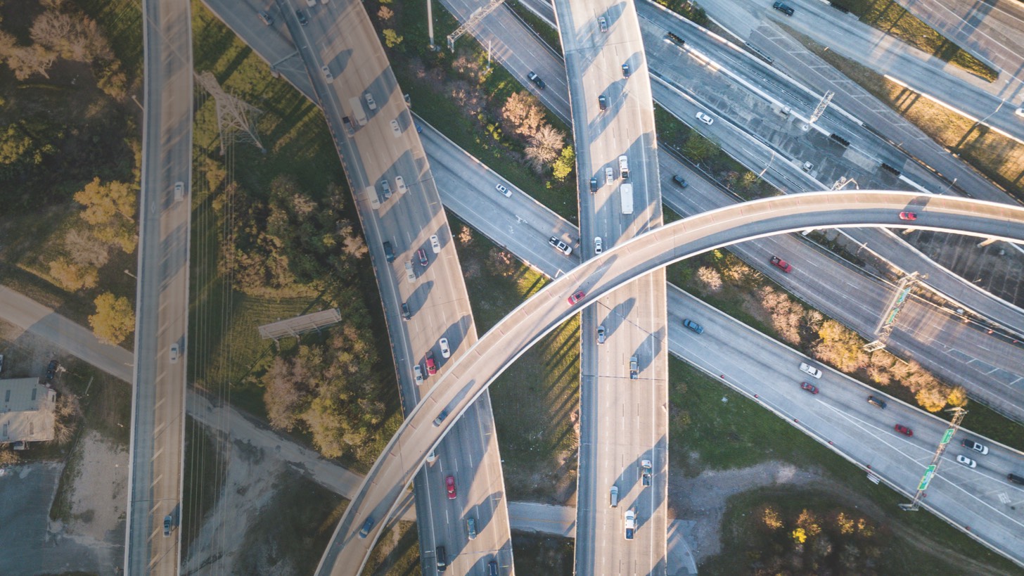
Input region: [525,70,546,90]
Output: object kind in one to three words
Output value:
vehicle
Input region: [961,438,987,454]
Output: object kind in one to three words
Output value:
vehicle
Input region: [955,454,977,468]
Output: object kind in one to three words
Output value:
car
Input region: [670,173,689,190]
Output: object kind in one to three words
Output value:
car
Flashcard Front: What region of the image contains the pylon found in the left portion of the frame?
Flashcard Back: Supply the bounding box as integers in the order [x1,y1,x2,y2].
[195,76,267,155]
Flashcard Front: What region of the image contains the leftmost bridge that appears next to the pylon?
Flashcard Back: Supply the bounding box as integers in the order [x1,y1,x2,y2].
[123,0,195,576]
